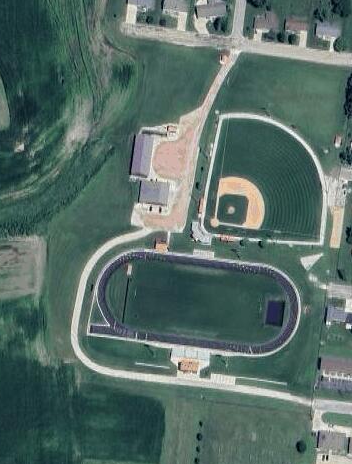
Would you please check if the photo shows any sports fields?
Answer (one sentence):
Yes, looking at the shot, I can spot a sports field.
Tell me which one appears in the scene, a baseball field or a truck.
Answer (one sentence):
Looking from above, you can make out a baseball field.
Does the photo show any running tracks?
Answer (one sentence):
Yes, the picture does show a running track.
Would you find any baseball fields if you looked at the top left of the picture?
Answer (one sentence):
No, looking at the top left of the picture, there is no baseball field.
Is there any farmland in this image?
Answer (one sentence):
Yes, the picture does contain farmland.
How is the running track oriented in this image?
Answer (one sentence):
The running track runs from side to side in the image.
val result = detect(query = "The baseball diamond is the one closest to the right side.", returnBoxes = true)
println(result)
[201,113,329,244]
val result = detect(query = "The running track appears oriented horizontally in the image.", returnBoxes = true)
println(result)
[88,249,301,356]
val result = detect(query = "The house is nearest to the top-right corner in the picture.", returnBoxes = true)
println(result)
[317,22,342,39]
